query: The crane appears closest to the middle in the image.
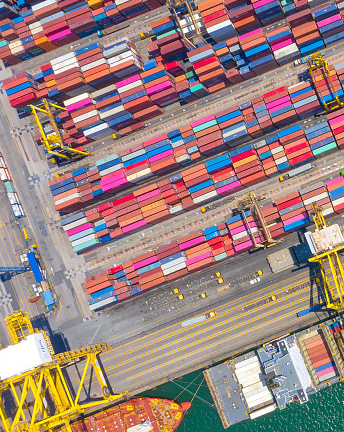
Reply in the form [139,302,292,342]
[229,191,284,252]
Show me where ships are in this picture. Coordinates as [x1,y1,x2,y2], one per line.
[203,316,344,427]
[51,397,195,432]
